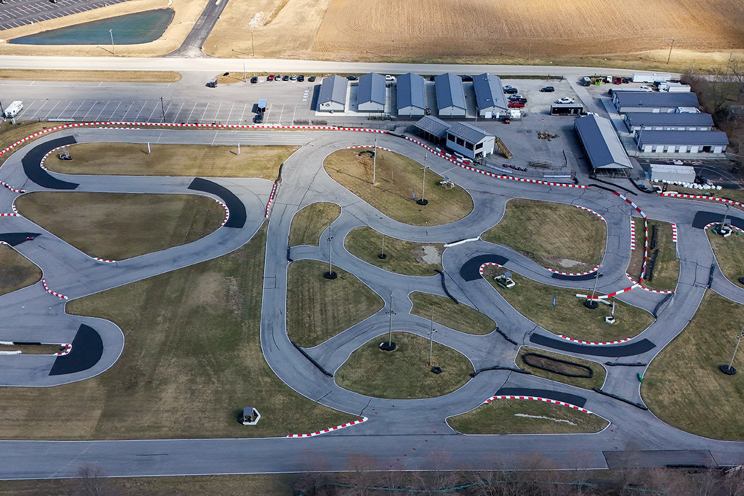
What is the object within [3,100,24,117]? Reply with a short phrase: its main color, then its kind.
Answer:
white camper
